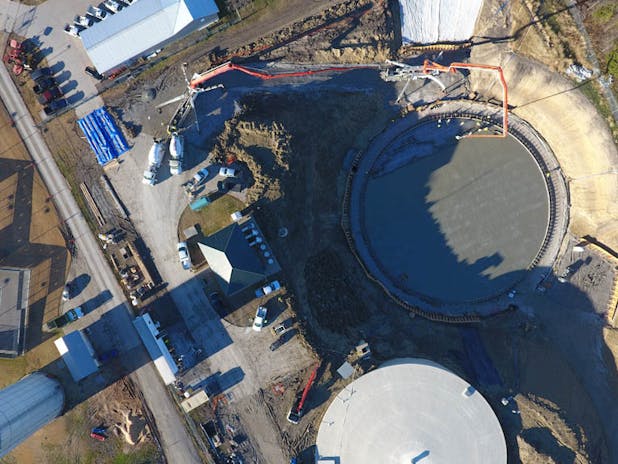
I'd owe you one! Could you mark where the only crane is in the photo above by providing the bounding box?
[287,364,318,425]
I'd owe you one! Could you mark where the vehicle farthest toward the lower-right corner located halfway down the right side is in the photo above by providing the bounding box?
[558,270,573,285]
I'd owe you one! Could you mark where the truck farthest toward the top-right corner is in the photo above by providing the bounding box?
[387,49,509,140]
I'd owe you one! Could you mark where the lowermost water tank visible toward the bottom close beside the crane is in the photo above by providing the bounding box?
[317,352,507,464]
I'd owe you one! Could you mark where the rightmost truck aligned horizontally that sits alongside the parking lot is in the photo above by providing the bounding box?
[153,60,384,136]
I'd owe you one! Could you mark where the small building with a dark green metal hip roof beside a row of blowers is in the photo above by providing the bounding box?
[198,221,268,297]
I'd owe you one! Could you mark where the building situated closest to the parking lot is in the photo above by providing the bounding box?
[77,0,218,81]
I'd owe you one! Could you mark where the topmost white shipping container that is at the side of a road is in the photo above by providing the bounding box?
[181,385,212,413]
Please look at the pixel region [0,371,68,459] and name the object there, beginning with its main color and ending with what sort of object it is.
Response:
blue water tank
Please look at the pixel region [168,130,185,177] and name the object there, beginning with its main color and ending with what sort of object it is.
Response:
white vehicle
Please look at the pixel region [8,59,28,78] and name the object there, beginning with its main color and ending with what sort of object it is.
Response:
red work vehicle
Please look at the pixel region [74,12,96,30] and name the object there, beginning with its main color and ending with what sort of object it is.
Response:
white vehicle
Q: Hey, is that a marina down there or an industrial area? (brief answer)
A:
industrial area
